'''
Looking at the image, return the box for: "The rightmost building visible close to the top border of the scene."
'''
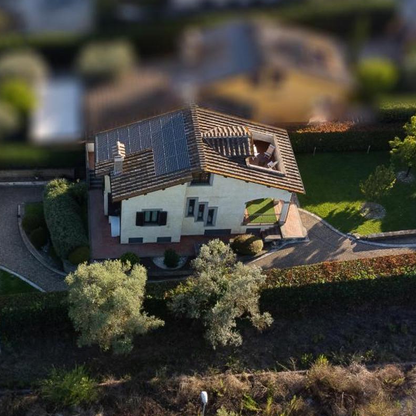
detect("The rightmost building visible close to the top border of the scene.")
[174,19,357,125]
